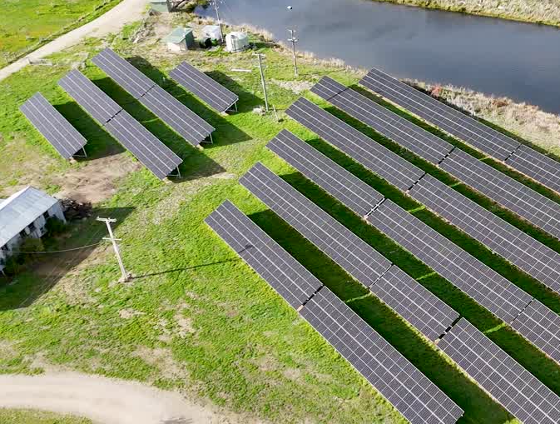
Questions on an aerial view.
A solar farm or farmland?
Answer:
solar farm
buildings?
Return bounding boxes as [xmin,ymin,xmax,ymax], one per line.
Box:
[148,0,175,11]
[163,26,200,51]
[0,188,63,270]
